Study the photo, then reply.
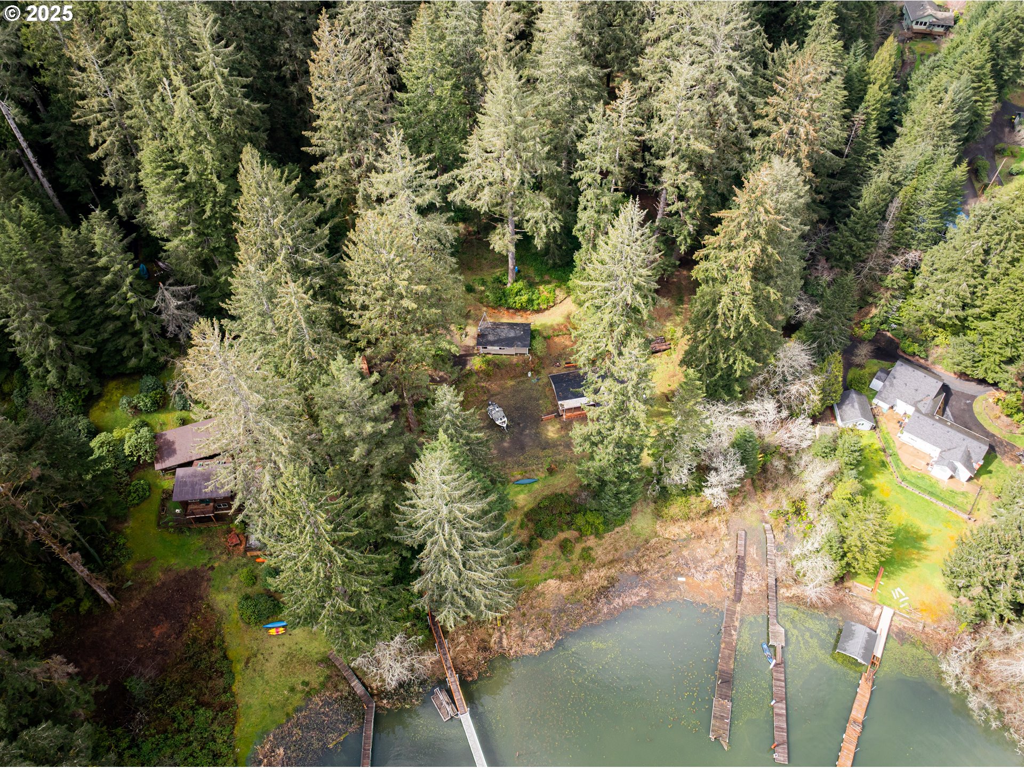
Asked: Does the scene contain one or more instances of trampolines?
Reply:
No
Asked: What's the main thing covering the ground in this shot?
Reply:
trees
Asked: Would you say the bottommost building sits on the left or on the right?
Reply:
right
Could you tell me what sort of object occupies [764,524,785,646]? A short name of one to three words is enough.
pier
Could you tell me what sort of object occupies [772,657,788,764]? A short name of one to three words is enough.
pier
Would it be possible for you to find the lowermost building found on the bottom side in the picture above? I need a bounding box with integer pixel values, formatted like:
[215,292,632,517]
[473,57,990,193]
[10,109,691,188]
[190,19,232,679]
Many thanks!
[833,620,873,669]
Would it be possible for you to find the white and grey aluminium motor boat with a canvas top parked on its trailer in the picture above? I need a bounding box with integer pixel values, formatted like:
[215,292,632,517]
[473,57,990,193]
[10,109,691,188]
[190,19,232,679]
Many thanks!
[487,395,506,424]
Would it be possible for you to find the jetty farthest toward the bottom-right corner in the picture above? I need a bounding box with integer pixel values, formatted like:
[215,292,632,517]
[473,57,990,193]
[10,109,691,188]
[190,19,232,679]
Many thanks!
[836,672,873,768]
